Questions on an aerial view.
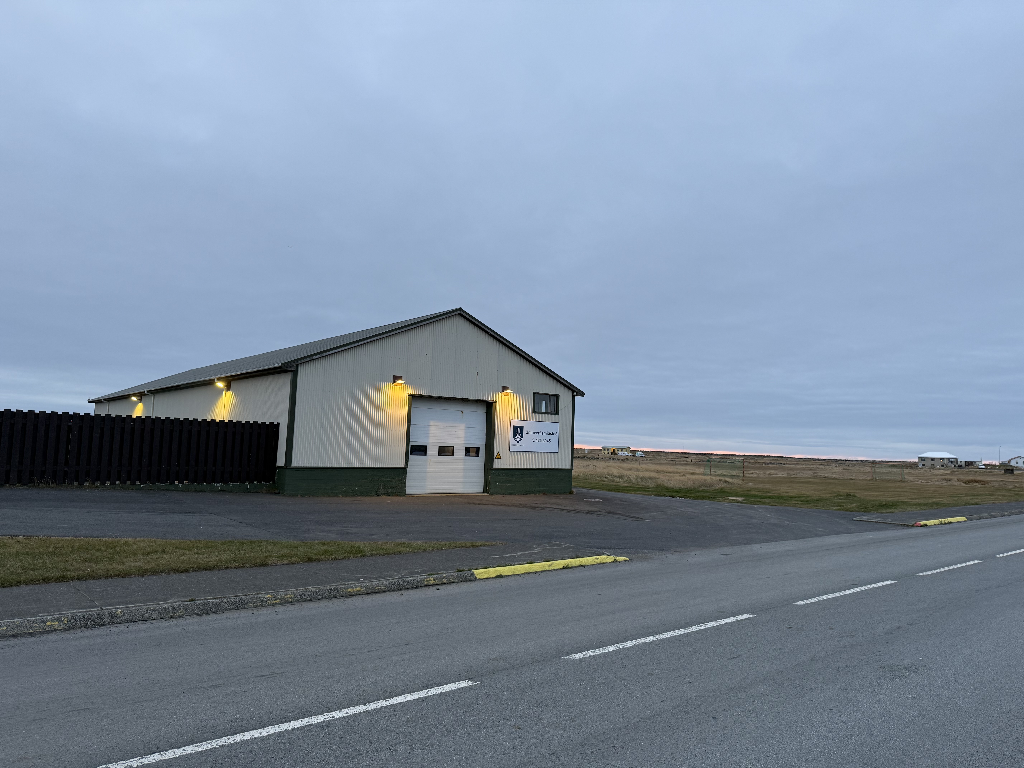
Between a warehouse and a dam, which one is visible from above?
warehouse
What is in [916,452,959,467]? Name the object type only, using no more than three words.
house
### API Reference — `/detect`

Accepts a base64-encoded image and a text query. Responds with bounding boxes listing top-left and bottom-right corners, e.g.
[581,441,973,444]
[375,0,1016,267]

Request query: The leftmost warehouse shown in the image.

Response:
[86,306,586,496]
